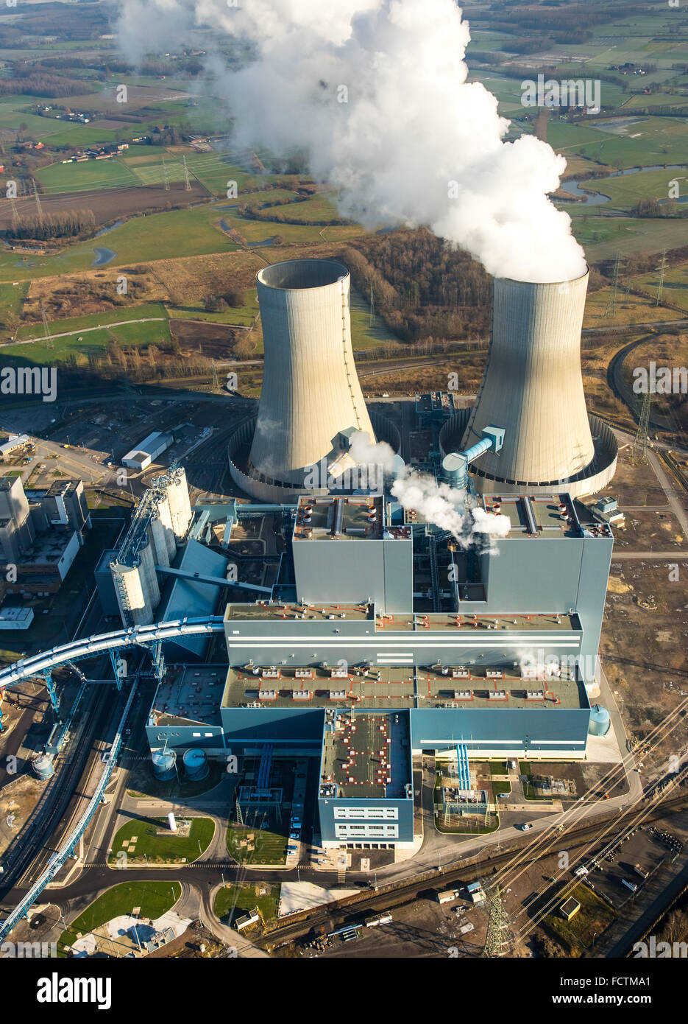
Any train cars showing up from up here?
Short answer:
No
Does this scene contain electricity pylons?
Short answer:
Yes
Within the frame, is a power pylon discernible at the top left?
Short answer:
Yes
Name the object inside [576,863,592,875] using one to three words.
vehicle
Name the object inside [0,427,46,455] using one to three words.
shed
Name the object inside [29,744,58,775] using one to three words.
storage tank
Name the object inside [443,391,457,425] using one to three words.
building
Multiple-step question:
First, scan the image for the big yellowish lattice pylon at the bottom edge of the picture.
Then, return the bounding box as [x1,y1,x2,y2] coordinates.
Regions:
[481,885,528,983]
